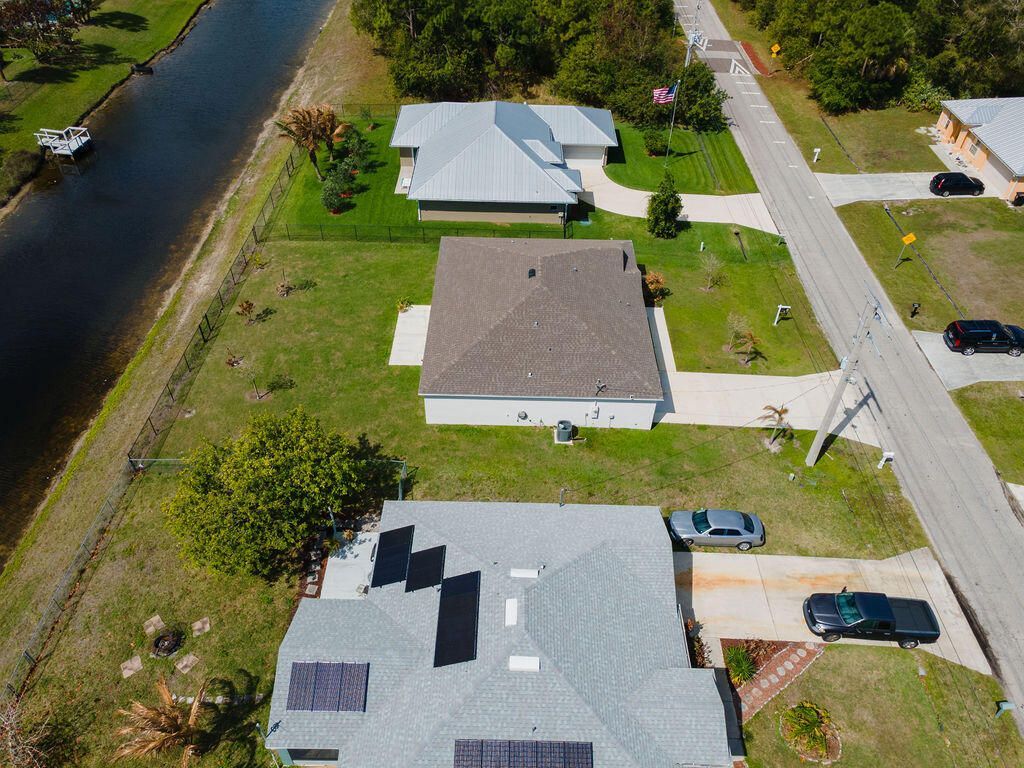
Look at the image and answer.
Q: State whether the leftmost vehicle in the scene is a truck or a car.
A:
car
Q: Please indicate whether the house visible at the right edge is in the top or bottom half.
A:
top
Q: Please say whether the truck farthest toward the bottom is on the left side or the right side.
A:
right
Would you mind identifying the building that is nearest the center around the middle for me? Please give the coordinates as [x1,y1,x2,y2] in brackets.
[416,236,663,428]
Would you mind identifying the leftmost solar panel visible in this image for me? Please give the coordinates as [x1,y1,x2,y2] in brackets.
[285,659,370,712]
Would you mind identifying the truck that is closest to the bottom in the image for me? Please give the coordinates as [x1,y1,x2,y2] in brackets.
[797,580,941,644]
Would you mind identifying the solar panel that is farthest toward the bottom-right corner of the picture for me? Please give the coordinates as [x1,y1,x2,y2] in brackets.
[453,737,594,768]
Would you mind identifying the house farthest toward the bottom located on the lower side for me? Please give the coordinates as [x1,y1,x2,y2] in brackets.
[264,492,732,768]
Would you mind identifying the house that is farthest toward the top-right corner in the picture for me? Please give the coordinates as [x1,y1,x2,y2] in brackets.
[940,99,1024,198]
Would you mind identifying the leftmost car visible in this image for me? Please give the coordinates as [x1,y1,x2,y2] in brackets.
[669,505,767,554]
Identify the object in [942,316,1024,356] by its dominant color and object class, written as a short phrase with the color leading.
black car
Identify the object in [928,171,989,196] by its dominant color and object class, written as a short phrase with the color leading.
black car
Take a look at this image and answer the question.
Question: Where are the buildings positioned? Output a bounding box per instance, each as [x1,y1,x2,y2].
[416,236,663,428]
[264,492,732,768]
[940,99,1024,198]
[388,100,617,227]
